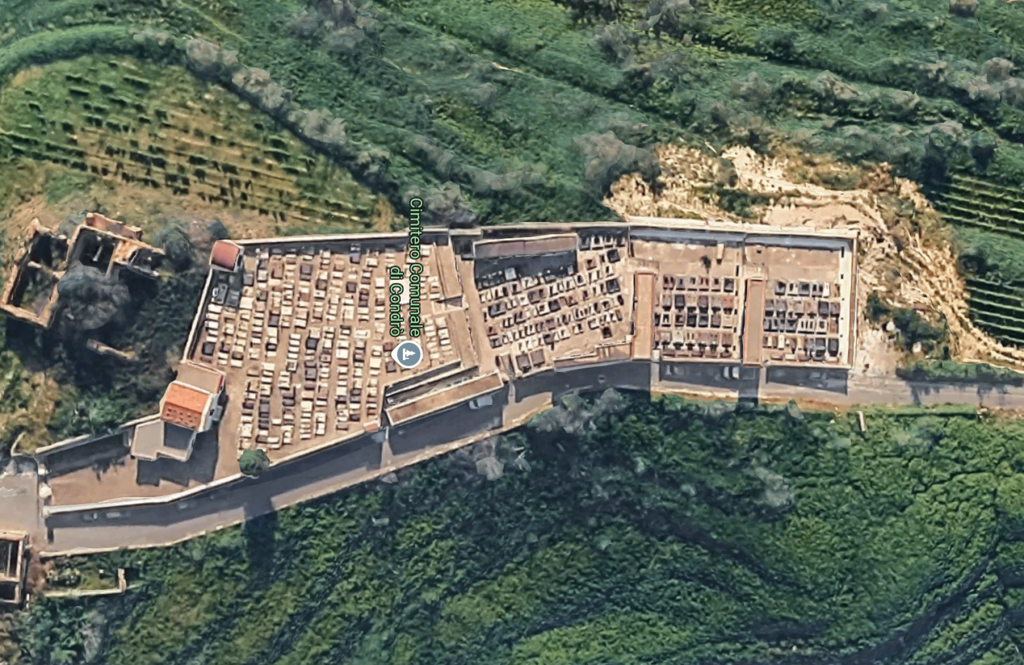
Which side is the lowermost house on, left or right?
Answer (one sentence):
The lowermost house is on the left side of the image.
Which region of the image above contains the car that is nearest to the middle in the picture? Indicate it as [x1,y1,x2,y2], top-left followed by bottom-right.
[469,394,497,410]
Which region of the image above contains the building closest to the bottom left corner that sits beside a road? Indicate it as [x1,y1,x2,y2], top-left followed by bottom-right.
[0,528,36,607]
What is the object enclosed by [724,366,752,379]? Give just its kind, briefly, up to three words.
vehicle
